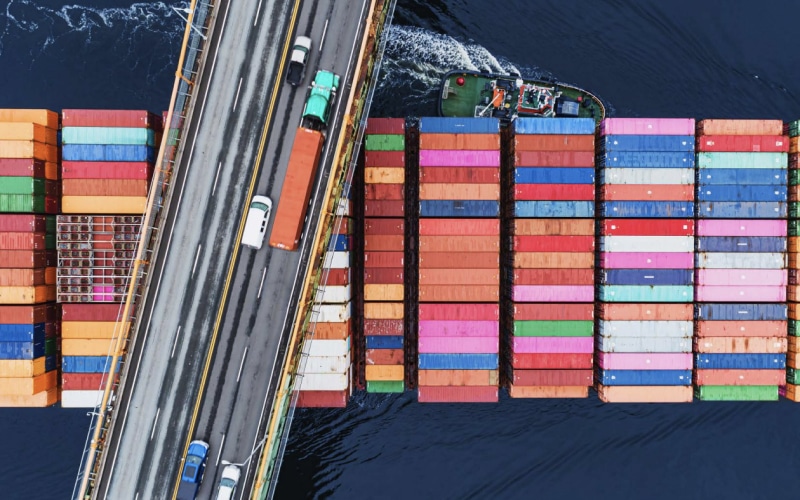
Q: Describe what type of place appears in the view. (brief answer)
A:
port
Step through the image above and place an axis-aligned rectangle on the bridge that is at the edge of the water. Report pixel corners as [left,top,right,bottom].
[73,0,395,500]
